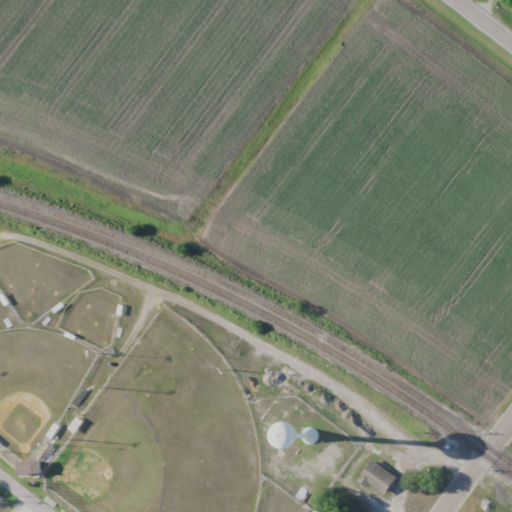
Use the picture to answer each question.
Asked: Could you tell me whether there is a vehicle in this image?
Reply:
No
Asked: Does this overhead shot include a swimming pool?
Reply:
No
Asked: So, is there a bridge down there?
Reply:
No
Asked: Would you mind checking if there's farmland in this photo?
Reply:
Yes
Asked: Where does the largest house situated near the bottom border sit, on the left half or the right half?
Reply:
right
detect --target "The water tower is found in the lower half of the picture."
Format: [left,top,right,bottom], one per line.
[266,422,319,450]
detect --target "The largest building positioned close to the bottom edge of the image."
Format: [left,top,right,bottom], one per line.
[356,460,396,494]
